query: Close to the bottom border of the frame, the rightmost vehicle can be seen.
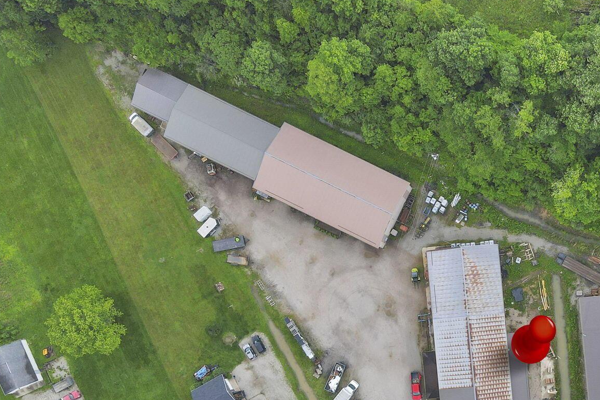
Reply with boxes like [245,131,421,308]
[410,370,423,400]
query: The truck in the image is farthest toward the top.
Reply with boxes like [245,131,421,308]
[131,113,158,140]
